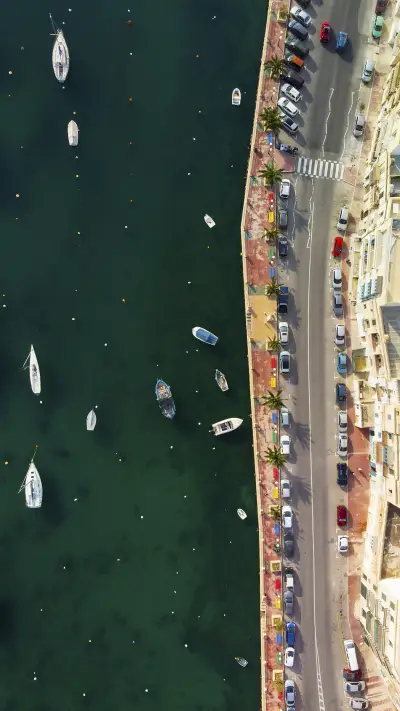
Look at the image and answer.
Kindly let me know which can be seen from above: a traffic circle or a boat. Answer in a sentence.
It is a boat that can be seen here.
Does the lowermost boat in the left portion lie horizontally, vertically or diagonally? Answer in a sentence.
The lowermost boat in the left portion is laid out vertically.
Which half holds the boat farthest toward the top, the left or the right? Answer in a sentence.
You can find the boat farthest toward the top on the left side of the picture.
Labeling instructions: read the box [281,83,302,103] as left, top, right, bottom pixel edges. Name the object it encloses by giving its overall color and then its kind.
white car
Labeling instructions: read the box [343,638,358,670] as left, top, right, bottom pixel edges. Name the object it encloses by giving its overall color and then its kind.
white vehicle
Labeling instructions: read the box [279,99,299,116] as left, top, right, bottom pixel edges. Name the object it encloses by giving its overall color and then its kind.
white car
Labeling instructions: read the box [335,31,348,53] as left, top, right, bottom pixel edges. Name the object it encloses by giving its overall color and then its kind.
blue vehicle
